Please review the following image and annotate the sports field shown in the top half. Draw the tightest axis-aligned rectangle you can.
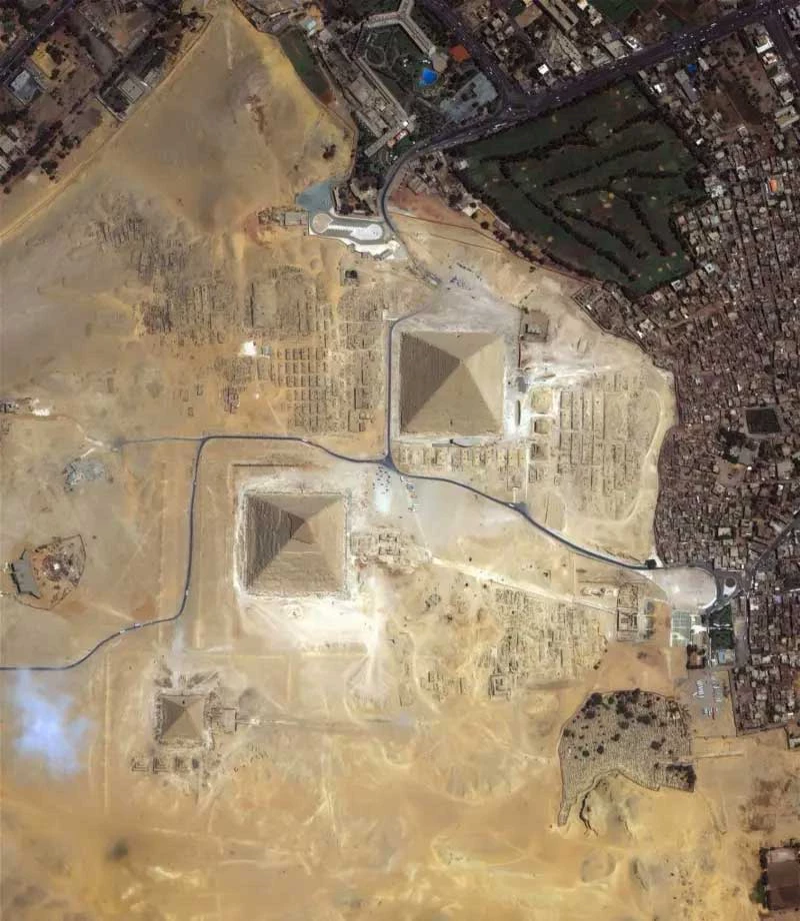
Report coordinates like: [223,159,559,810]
[280,26,332,103]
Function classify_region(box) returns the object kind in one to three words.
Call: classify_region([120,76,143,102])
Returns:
house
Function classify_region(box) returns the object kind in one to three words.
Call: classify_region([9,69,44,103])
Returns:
building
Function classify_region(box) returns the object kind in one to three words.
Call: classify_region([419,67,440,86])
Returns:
swimming pool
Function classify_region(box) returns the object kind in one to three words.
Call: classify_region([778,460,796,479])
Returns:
building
